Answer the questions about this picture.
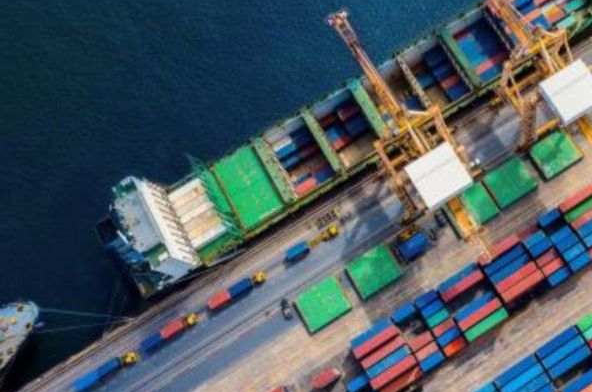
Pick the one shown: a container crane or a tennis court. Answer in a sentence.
Of the two, only a container crane appears.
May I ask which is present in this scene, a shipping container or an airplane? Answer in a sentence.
This aerial view contains a shipping container.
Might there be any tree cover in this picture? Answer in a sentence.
No, the picture contains no tree cover.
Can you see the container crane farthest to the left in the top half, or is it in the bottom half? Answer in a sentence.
Seen from above, the container crane farthest to the left lies in the top half of the view.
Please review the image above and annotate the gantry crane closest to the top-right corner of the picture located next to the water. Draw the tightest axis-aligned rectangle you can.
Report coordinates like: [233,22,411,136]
[489,0,592,146]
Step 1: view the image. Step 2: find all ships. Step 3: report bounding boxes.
[91,0,592,304]
[0,306,47,375]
